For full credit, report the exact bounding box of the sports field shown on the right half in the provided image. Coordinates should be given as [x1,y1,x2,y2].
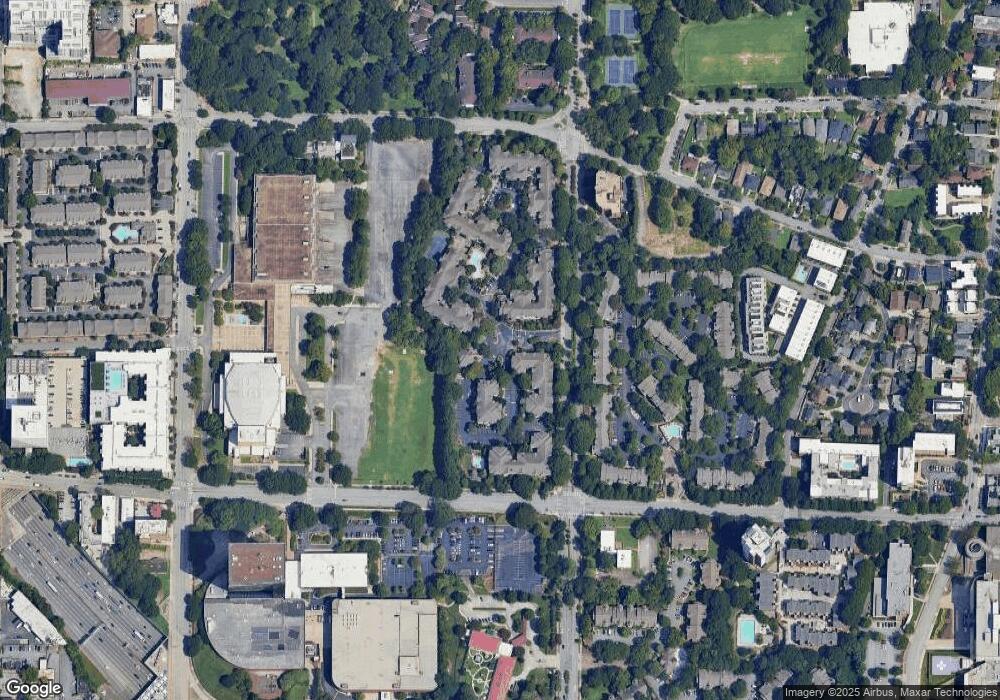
[679,14,811,96]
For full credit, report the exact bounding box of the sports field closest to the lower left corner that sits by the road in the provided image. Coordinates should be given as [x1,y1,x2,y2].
[357,345,434,486]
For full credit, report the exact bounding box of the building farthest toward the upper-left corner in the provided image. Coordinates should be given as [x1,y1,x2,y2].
[9,0,90,68]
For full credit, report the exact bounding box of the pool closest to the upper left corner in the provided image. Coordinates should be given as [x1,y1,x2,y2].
[112,222,140,243]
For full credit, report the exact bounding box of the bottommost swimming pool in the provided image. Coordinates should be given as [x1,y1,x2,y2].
[737,613,772,646]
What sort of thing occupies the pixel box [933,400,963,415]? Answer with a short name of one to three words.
house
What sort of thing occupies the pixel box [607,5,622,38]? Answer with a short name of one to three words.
tennis court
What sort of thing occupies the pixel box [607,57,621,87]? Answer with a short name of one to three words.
tennis court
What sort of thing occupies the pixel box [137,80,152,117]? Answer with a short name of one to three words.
building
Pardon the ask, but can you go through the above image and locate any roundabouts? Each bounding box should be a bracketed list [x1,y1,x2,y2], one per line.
[843,384,879,420]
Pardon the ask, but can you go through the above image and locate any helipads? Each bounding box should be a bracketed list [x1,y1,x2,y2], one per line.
[932,655,961,676]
